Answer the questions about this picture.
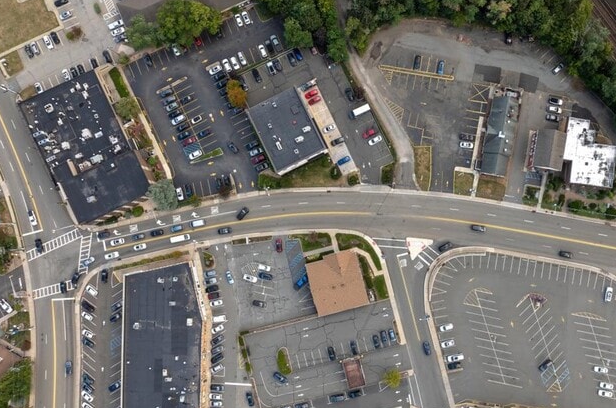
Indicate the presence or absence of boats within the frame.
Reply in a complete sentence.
No, the scene contains no boat.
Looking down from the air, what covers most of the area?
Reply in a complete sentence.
Most of the picture is covered by paved ground.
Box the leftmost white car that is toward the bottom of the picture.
[0,300,12,313]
